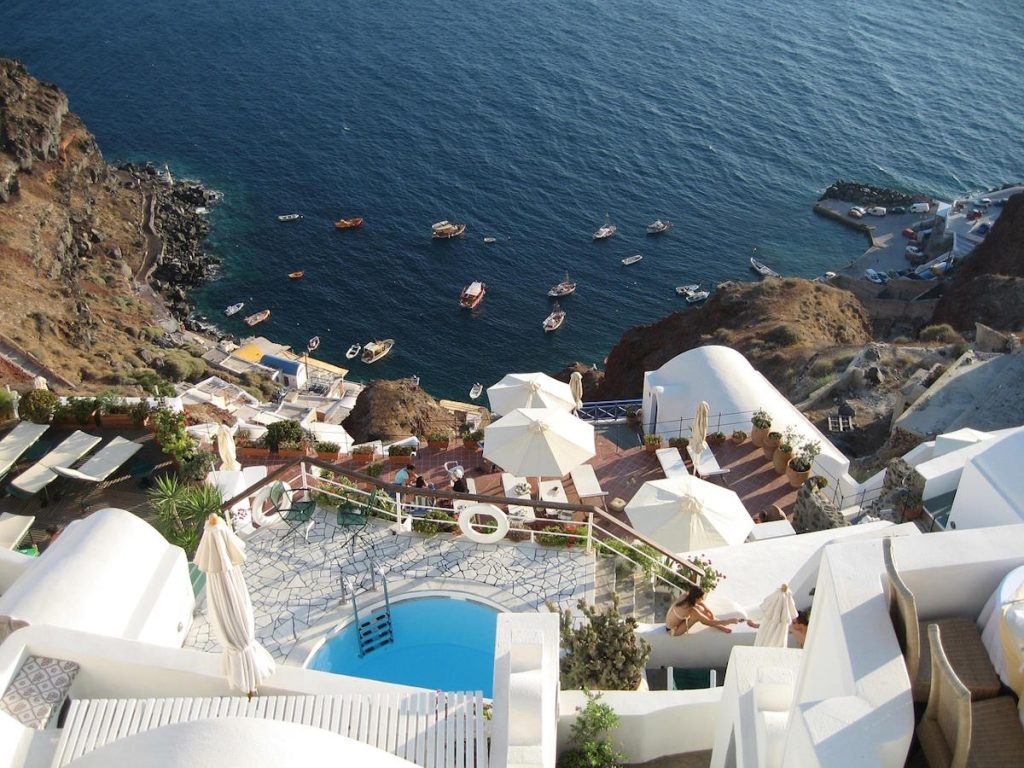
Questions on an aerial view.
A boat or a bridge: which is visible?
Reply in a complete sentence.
There is a boat in the scene.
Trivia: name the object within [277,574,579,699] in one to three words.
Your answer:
swimming pool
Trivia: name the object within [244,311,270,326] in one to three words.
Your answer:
boat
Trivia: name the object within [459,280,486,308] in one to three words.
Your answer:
boat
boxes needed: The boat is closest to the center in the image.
[467,383,480,400]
